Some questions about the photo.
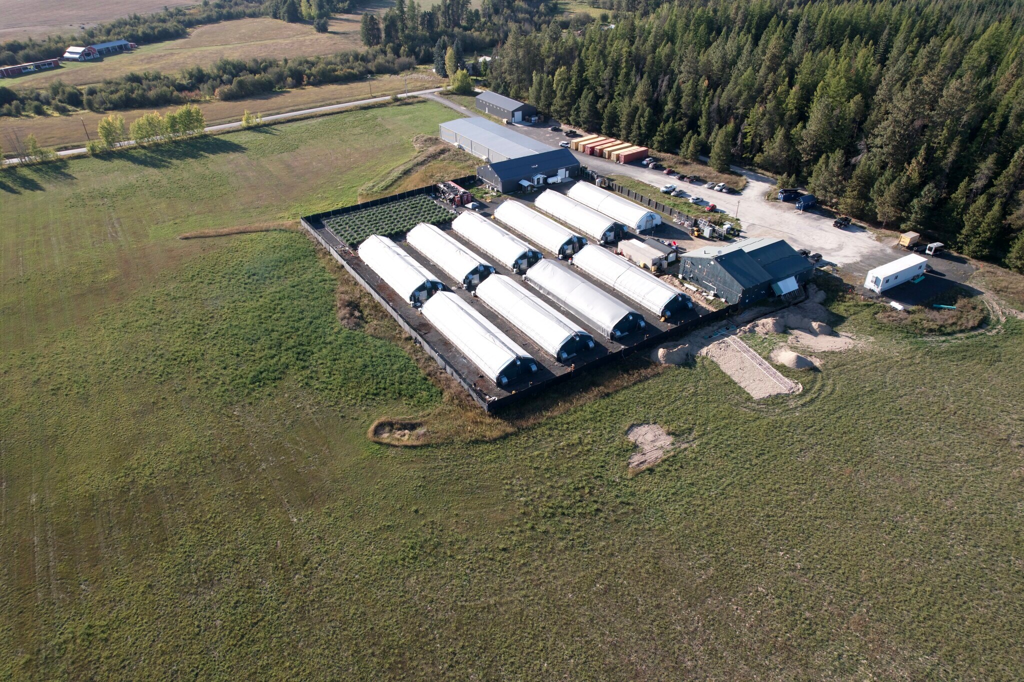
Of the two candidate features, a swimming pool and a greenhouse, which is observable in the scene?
greenhouse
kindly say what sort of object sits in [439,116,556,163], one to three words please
building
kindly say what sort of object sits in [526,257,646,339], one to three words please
greenhouse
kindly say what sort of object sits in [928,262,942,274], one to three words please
vehicle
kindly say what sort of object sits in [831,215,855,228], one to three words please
vehicle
